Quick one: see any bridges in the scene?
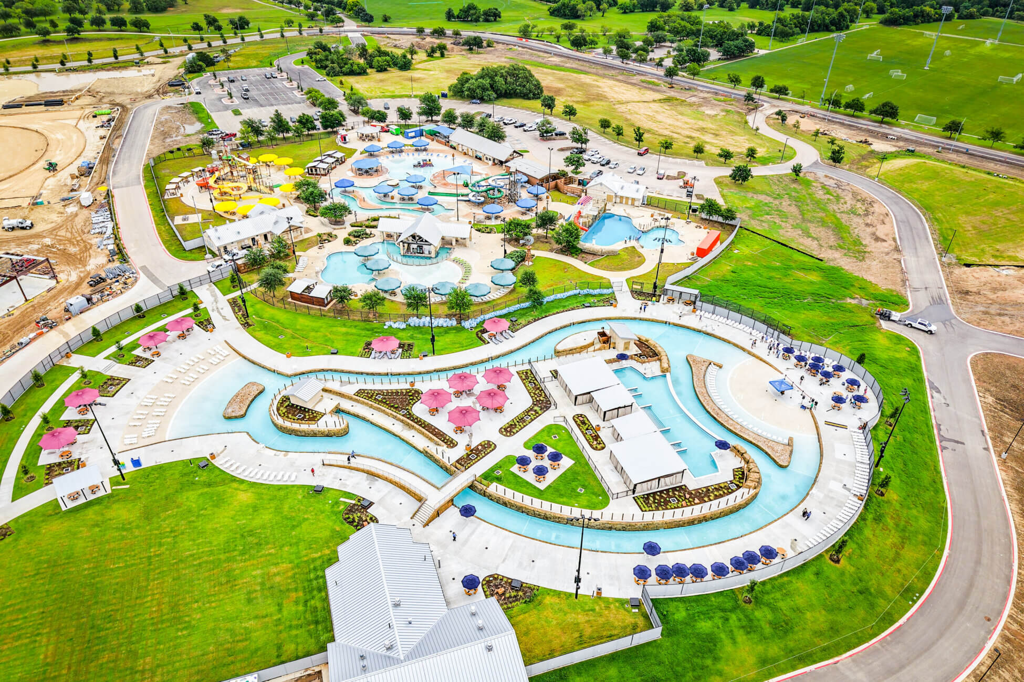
Yes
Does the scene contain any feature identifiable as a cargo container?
Yes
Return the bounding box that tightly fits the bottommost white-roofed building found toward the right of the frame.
[608,432,688,498]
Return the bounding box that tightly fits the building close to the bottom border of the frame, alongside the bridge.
[316,522,528,682]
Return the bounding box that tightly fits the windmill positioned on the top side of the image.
[521,239,534,263]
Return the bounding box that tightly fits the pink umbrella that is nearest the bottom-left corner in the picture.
[39,428,78,454]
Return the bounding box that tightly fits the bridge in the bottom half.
[322,451,475,527]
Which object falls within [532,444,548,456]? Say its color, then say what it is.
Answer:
blue umbrella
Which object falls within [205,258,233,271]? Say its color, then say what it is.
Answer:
white vehicle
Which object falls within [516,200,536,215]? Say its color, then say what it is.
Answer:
blue umbrella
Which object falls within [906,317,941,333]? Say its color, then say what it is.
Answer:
white vehicle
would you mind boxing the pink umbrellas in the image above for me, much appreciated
[482,368,513,390]
[66,389,101,413]
[448,372,479,395]
[139,333,169,353]
[39,428,78,454]
[447,407,481,432]
[476,389,508,413]
[371,337,400,358]
[166,318,195,339]
[480,319,508,337]
[420,390,452,412]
